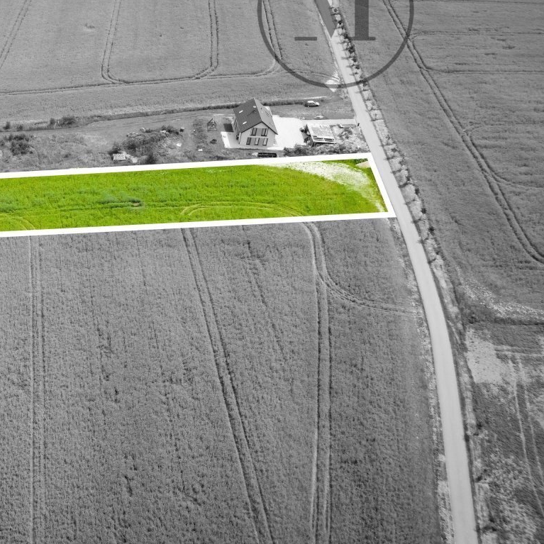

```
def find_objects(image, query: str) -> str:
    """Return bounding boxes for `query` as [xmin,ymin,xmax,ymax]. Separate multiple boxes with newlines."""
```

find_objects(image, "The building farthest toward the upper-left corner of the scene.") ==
[235,97,281,145]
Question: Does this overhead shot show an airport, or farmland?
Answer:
farmland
